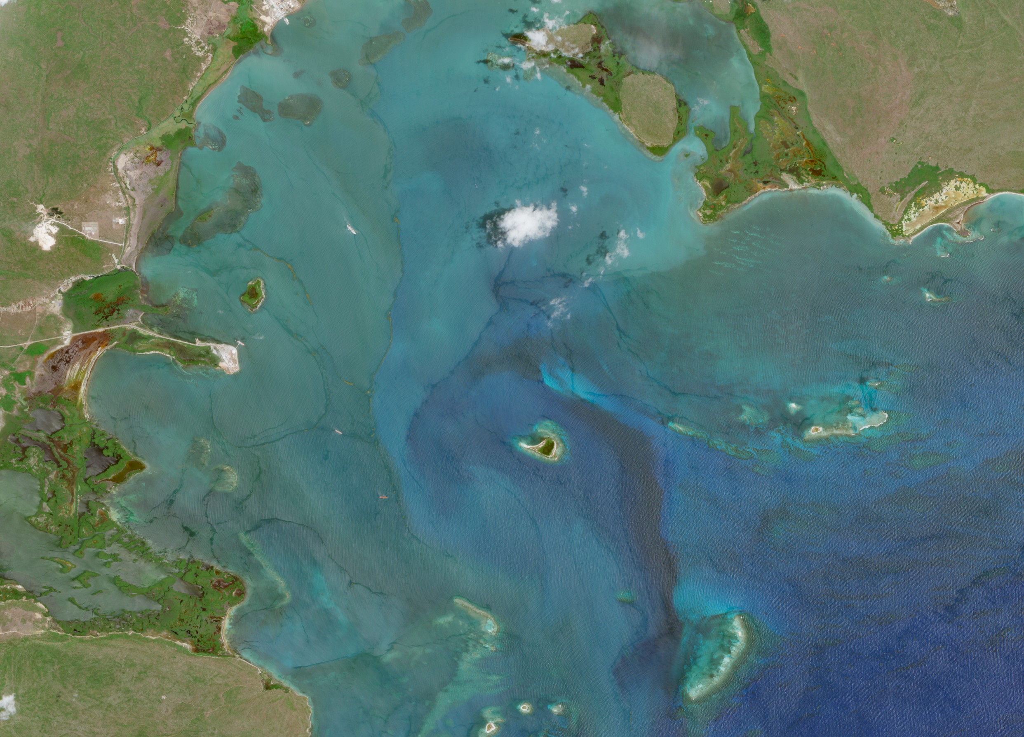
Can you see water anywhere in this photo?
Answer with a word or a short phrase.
Yes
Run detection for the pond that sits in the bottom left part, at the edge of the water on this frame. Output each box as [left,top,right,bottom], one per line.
[0,469,179,623]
